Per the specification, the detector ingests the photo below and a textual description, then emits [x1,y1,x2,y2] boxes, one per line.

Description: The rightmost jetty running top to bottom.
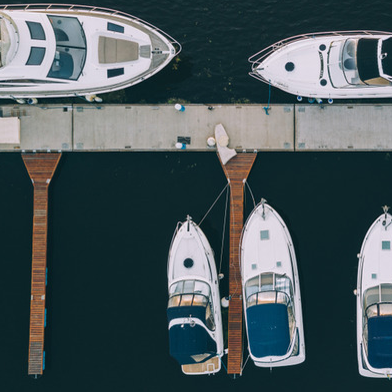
[217,151,258,379]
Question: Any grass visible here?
No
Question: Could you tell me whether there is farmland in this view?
No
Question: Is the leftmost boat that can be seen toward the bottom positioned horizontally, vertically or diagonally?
vertically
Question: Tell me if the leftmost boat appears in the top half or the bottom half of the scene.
top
